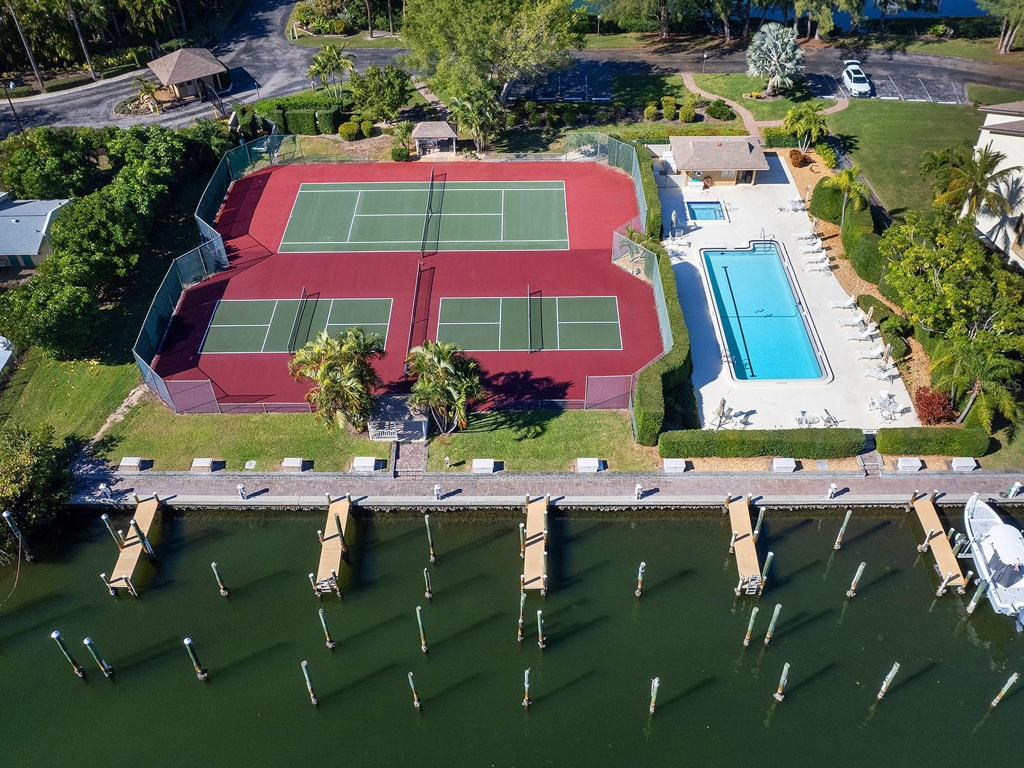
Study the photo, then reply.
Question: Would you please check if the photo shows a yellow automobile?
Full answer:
No, I can't see a single yellow automobile in this photo.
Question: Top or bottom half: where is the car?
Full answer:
The car sits in the top half of the picture.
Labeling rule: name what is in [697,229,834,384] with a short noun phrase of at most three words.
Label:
swimming pool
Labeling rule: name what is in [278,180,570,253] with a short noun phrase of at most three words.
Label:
tennis court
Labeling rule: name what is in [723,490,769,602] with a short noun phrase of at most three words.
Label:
pier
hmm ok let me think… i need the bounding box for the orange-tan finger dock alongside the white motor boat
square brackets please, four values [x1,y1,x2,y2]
[907,488,975,597]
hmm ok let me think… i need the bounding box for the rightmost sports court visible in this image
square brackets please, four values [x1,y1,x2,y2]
[436,297,623,350]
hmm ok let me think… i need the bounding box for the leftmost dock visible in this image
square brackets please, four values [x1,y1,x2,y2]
[100,493,167,601]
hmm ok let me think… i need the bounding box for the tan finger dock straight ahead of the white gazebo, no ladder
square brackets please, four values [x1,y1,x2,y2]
[517,491,552,599]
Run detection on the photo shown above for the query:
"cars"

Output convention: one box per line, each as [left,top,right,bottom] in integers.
[843,56,872,94]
